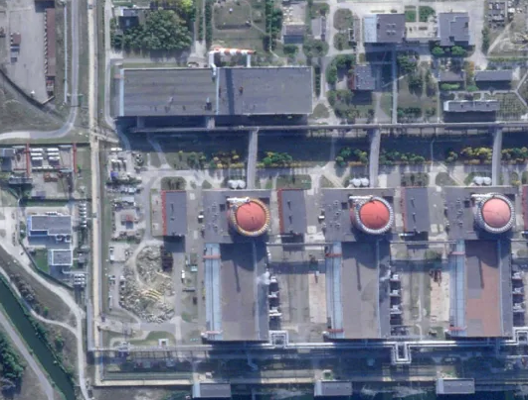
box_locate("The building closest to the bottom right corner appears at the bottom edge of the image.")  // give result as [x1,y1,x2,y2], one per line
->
[435,378,474,395]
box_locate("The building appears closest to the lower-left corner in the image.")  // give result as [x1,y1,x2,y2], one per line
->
[50,250,72,265]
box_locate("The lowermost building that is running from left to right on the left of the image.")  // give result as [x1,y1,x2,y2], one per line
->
[191,383,231,399]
